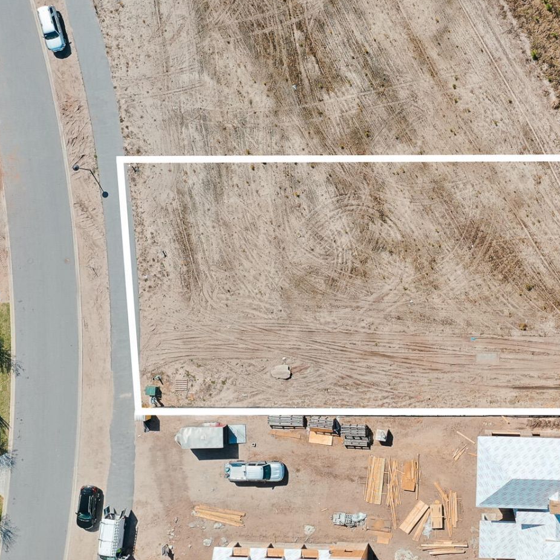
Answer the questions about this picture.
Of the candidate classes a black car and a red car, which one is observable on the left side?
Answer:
black car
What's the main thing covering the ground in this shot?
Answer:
paved ground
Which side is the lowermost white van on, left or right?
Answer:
left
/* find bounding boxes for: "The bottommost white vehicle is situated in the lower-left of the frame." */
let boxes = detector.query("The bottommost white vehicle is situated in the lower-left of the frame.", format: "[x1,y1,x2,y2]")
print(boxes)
[97,502,135,560]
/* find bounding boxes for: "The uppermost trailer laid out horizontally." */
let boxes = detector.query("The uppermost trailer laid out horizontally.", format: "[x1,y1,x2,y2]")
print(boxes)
[169,422,251,449]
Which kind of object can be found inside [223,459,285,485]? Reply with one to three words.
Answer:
truck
